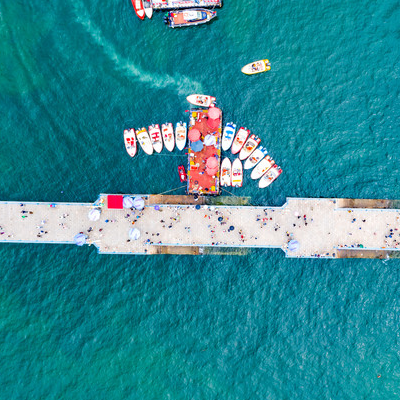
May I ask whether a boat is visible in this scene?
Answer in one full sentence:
Yes, a boat appears in the view.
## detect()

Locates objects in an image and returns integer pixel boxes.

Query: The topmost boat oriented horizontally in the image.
[167,7,218,28]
